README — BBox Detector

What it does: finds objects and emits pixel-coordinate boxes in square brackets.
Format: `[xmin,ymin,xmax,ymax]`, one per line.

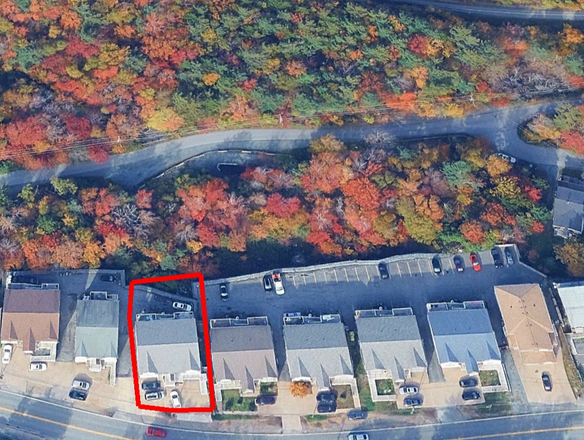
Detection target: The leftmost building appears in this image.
[1,282,61,363]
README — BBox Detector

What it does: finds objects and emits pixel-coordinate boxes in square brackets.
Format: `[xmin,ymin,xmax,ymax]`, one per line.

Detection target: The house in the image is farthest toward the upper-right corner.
[552,175,584,240]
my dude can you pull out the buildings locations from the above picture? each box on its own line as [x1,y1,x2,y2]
[493,283,562,367]
[355,304,427,403]
[283,313,361,408]
[136,311,209,395]
[425,299,511,394]
[556,281,584,343]
[1,282,61,363]
[552,175,584,240]
[74,291,119,386]
[210,315,277,403]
